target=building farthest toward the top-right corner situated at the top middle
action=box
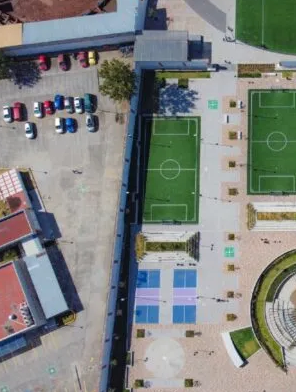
[134,31,190,63]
